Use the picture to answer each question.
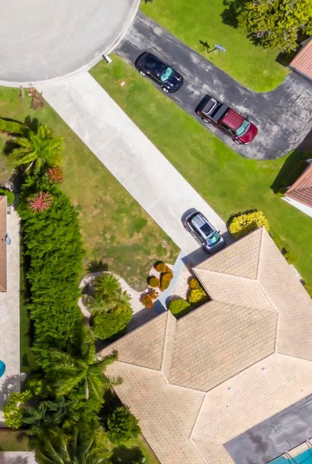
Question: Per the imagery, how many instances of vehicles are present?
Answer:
three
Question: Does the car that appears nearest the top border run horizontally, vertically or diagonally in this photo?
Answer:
diagonally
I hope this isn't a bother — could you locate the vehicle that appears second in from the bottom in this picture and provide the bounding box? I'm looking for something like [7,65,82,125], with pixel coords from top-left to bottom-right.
[196,96,254,142]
